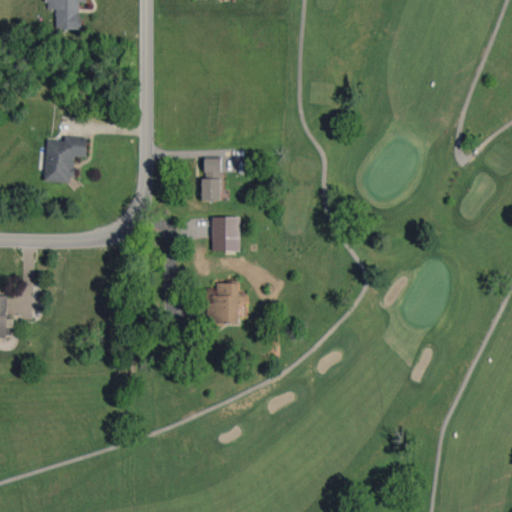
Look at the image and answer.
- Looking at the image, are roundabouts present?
No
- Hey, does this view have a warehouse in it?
No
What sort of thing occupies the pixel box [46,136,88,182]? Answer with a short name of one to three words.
house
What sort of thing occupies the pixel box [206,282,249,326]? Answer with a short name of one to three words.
house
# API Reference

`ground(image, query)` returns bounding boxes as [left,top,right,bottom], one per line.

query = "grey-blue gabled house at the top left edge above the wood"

[44,0,85,33]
